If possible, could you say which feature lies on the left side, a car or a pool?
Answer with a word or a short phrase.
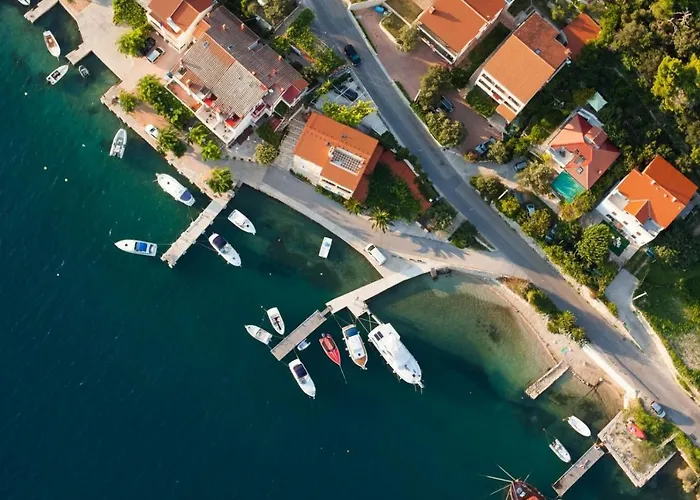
car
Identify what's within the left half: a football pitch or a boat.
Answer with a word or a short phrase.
boat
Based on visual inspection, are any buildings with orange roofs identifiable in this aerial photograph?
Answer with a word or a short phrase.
Yes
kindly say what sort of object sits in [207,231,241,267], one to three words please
boat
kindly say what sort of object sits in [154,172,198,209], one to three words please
boat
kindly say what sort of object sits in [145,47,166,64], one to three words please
car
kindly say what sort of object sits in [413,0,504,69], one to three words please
house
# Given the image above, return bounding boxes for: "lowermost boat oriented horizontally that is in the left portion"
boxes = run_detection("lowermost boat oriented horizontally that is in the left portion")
[111,239,160,256]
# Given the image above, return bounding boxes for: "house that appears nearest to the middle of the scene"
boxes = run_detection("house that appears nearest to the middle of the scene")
[292,112,383,202]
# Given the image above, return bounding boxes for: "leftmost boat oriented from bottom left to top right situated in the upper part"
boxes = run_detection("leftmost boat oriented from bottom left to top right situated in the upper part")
[44,64,71,85]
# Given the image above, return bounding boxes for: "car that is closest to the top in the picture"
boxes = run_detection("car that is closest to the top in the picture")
[370,3,389,16]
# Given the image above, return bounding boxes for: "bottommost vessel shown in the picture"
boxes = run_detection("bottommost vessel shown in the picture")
[487,464,538,500]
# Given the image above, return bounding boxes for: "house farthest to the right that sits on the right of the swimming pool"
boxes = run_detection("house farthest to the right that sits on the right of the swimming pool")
[595,146,698,236]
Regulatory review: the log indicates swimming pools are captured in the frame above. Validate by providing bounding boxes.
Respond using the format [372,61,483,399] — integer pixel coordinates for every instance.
[550,170,584,205]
